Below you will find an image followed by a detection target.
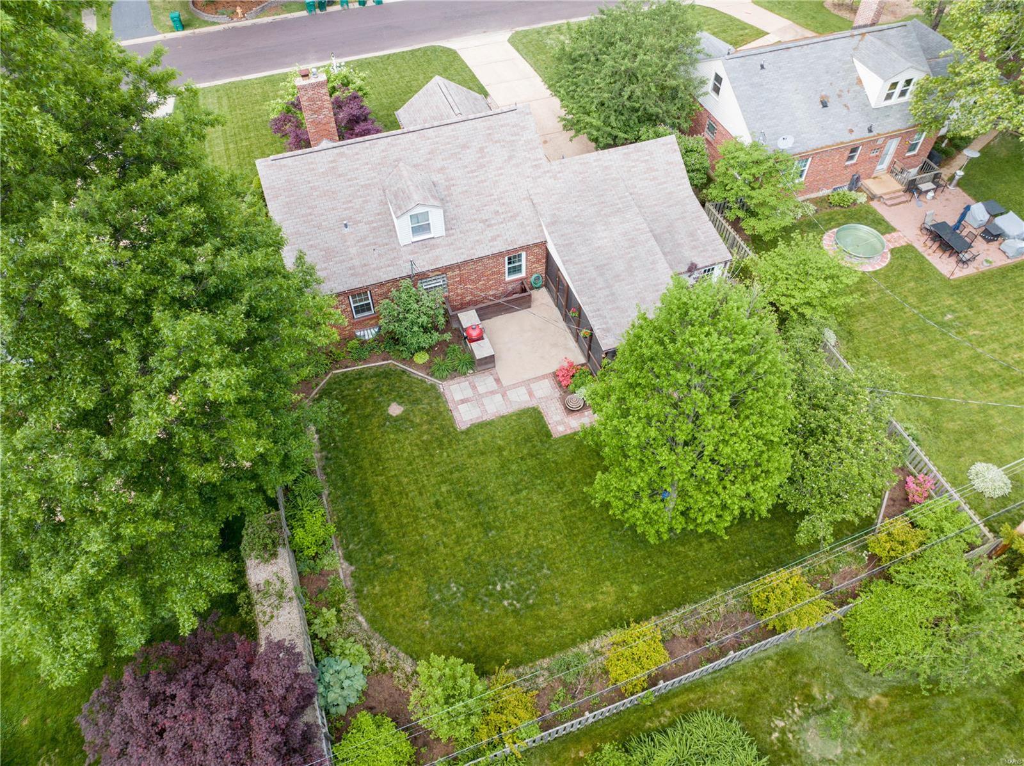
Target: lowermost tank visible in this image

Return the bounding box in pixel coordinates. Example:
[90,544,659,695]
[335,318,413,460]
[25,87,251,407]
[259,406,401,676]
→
[837,226,896,271]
